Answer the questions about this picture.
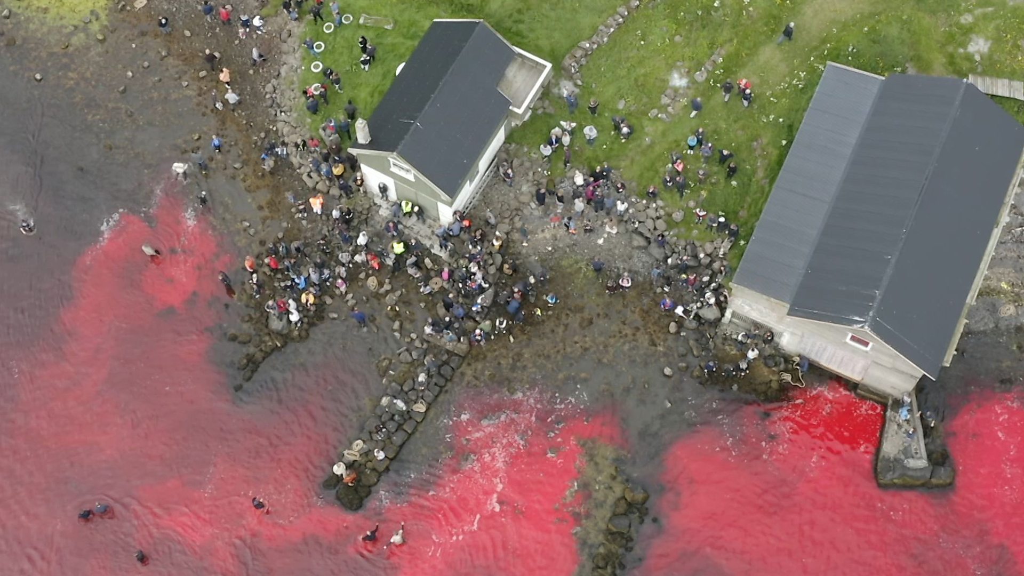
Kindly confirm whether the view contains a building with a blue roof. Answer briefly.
No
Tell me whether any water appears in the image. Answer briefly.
Yes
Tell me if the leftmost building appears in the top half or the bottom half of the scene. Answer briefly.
top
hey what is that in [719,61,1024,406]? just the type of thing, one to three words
shed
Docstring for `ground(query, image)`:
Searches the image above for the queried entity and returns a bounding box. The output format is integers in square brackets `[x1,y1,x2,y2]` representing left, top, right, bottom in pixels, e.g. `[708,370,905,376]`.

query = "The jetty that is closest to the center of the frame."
[327,322,469,512]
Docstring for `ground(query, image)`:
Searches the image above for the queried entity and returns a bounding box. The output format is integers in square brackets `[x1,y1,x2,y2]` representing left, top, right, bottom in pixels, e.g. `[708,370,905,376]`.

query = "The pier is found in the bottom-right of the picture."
[875,396,954,489]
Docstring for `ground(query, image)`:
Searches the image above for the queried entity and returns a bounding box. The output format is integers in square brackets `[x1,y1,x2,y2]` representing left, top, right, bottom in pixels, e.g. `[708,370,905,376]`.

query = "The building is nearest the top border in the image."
[347,17,554,225]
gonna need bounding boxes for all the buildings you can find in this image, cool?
[347,17,554,225]
[719,61,1024,406]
